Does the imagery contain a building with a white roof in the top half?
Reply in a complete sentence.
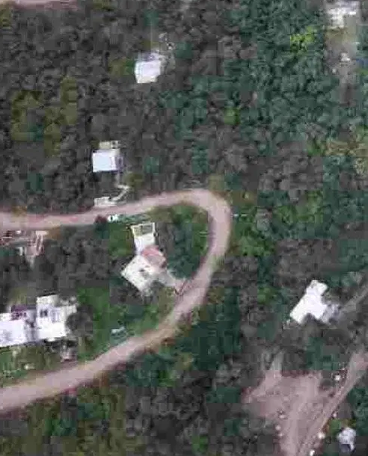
Yes, a building with a white roof is visible in the top half.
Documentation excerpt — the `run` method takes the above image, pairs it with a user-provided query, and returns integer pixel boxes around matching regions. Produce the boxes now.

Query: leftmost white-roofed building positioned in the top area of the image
[93,141,125,172]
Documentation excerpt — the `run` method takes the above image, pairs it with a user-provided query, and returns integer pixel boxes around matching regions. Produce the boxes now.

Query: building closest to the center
[121,222,167,293]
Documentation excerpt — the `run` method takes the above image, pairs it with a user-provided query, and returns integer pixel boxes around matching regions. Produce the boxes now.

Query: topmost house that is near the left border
[0,294,82,347]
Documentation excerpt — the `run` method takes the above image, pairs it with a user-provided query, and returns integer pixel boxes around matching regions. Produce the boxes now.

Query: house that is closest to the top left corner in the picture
[134,51,175,82]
